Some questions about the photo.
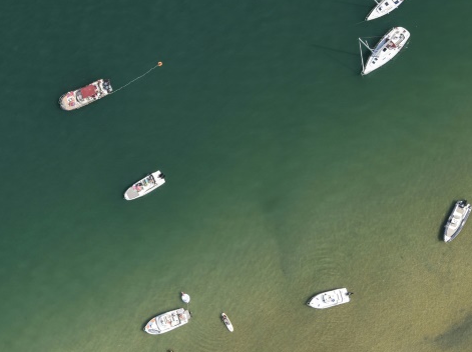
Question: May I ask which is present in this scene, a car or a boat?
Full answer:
Looking from above, you can make out a boat.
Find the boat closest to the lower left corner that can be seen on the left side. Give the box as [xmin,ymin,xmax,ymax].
[142,308,193,333]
